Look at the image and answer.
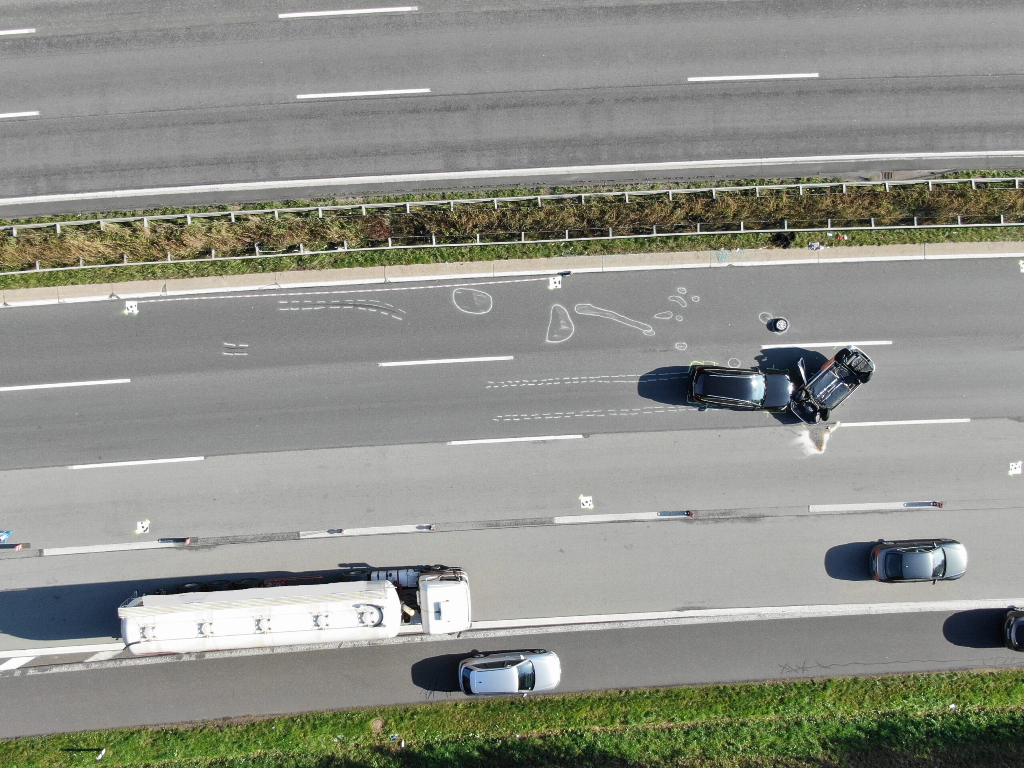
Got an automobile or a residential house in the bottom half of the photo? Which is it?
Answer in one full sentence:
Visible in the bottom half of the photo is an automobile.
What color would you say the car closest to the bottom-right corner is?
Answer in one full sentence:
The car closest to the bottom-right corner looks black in the image.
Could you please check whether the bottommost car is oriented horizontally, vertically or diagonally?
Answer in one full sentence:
The bottommost car is laid out horizontally.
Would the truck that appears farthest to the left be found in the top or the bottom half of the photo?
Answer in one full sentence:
The bottom half of the photo is where the truck that appears farthest to the left is.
